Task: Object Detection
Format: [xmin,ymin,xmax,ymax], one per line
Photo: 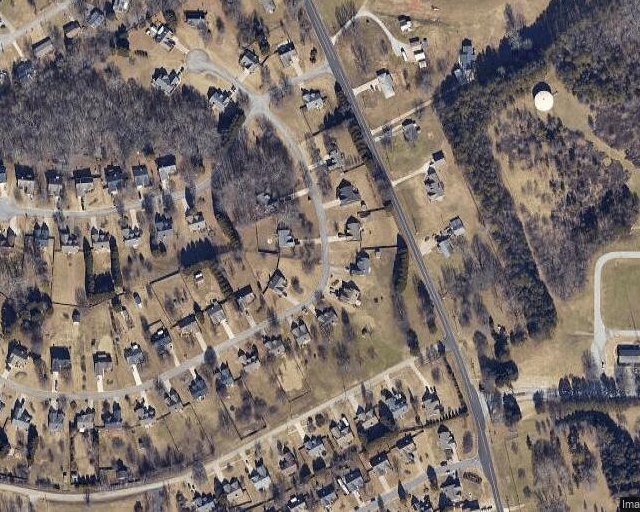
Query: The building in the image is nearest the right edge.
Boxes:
[619,349,640,363]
